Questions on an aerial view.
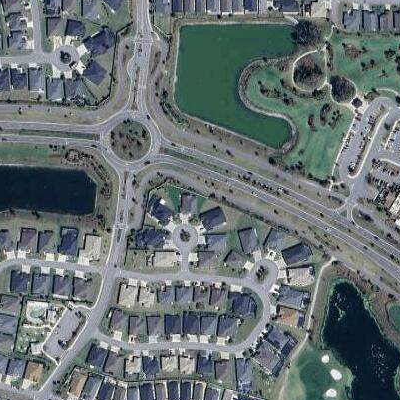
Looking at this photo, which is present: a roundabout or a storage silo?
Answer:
roundabout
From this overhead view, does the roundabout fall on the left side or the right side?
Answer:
left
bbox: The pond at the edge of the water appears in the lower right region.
[322,278,400,400]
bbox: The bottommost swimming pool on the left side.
[26,301,47,323]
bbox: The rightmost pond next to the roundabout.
[174,23,298,149]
